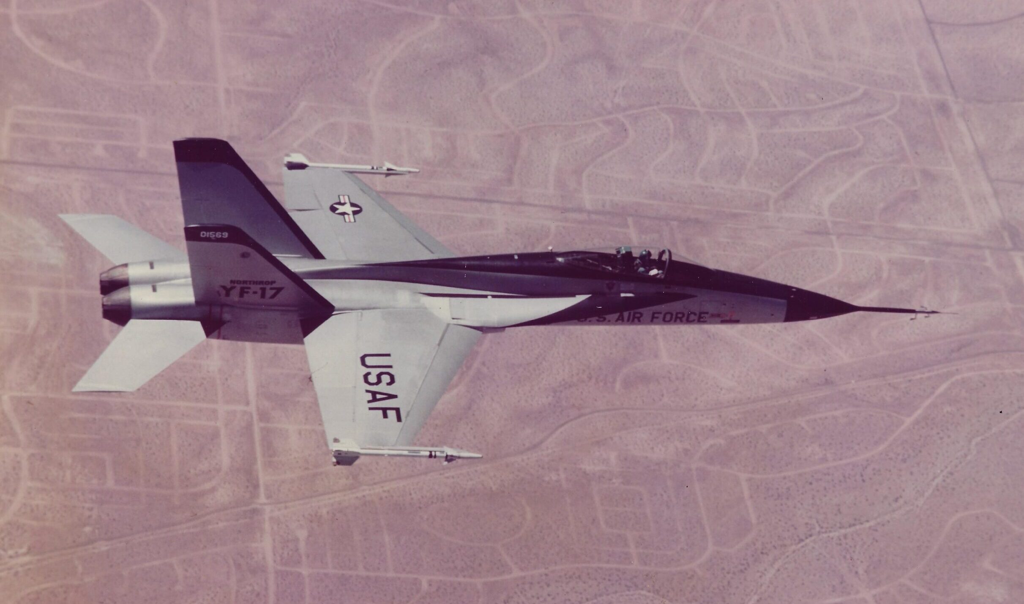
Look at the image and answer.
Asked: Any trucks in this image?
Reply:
No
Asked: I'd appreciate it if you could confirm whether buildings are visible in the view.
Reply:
No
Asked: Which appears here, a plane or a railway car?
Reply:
plane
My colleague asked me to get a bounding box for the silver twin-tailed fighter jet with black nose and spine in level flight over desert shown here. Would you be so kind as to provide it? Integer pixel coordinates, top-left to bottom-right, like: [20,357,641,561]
[58,140,957,453]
